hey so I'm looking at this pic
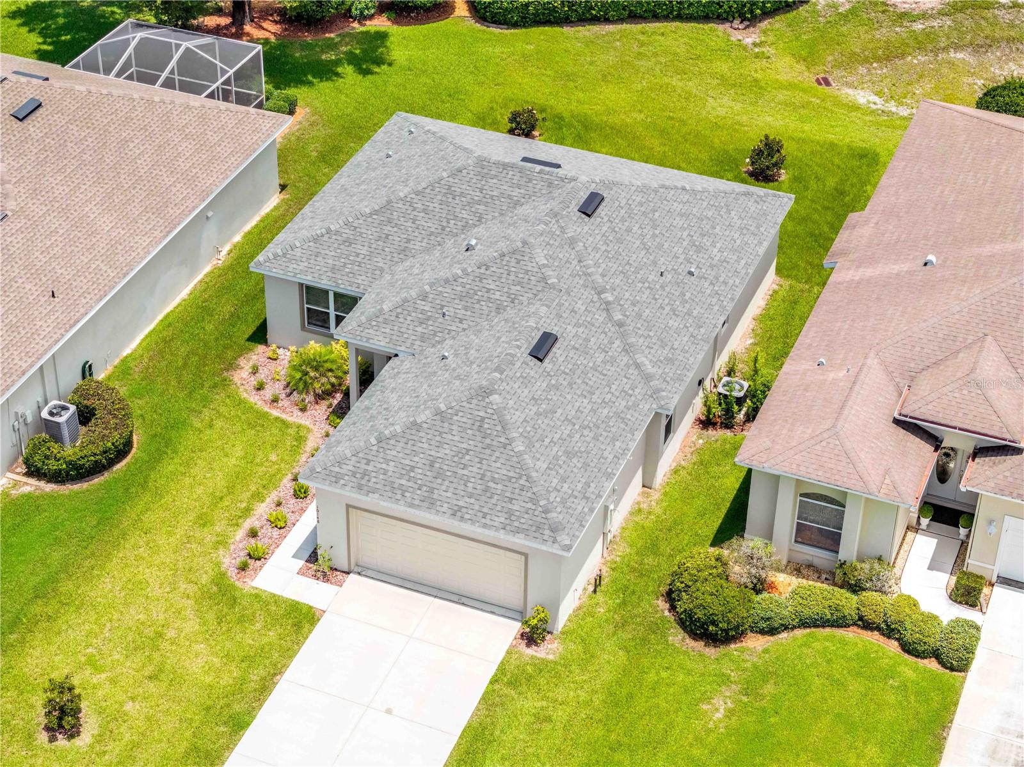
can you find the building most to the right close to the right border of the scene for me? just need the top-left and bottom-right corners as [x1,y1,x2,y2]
[732,98,1024,581]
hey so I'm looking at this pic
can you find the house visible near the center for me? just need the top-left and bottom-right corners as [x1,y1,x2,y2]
[248,110,796,631]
